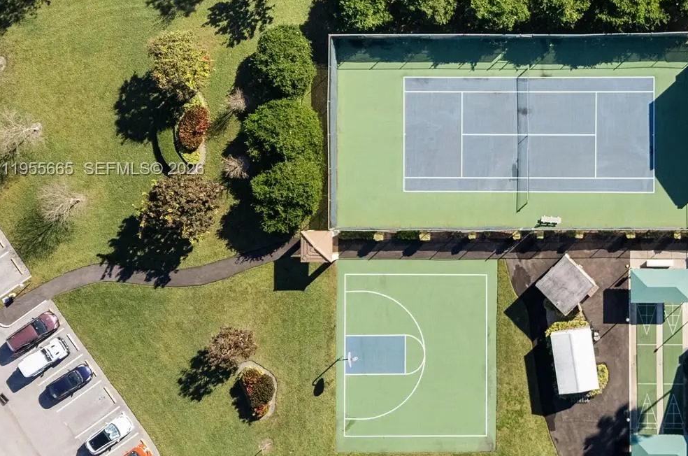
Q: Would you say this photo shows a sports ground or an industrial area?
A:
sports ground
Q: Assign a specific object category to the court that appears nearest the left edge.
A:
basketball court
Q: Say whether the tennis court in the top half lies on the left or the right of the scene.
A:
right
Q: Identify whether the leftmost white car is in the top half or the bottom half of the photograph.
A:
bottom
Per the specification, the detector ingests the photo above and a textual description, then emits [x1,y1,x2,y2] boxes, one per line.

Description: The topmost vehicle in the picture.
[2,313,57,356]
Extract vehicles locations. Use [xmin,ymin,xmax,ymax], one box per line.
[40,363,92,405]
[2,313,57,356]
[122,443,150,456]
[11,338,68,382]
[82,416,132,456]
